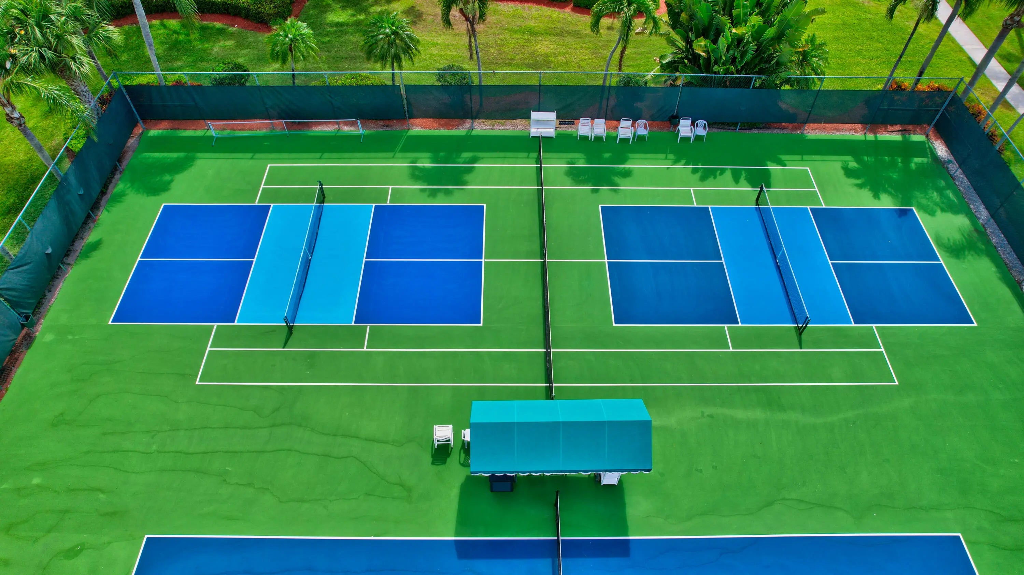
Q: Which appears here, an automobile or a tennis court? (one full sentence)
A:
The image shows a tennis court.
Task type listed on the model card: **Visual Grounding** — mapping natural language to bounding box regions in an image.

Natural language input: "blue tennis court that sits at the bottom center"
[134,535,978,575]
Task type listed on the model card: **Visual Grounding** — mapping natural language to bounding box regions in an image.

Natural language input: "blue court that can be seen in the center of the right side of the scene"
[598,205,978,327]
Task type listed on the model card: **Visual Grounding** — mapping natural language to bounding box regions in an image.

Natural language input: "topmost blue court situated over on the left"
[110,203,485,325]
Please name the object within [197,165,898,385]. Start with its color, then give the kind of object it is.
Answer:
green tennis court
